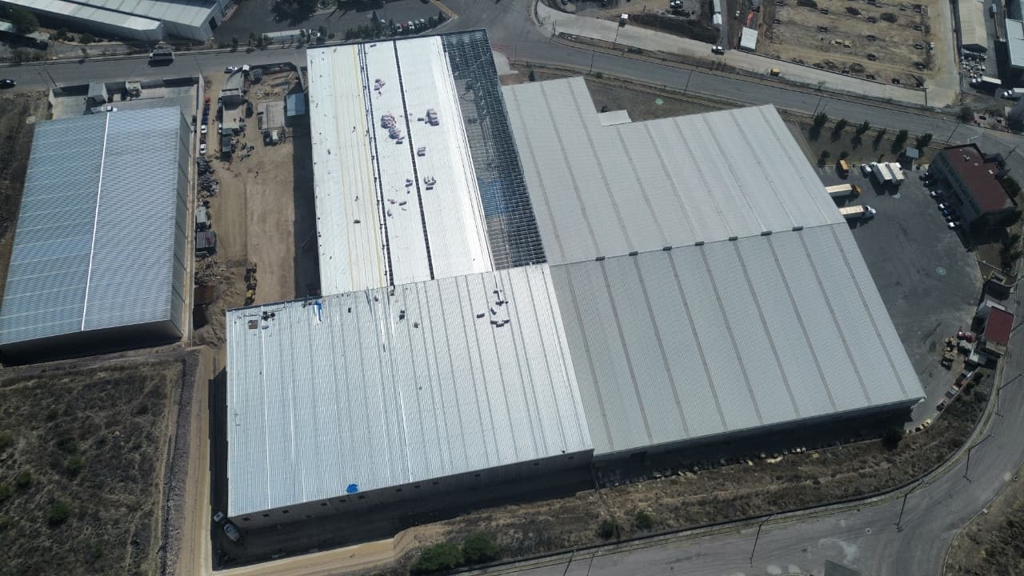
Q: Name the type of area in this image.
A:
industrial area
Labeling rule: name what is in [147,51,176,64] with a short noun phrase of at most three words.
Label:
vehicle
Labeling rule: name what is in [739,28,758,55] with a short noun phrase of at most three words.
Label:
shed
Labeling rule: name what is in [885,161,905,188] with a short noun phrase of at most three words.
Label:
vehicle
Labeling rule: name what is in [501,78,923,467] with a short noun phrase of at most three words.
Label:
warehouse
